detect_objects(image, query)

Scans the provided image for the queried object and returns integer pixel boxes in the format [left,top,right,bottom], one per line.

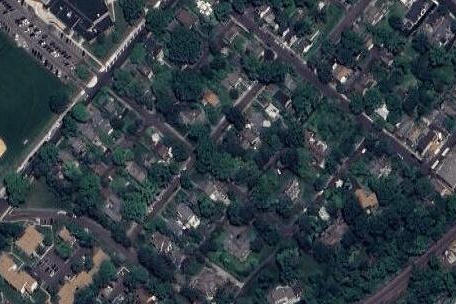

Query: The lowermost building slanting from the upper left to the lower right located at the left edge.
[0,252,40,298]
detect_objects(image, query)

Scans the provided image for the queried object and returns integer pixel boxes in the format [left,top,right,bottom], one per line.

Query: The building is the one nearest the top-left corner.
[51,0,113,45]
